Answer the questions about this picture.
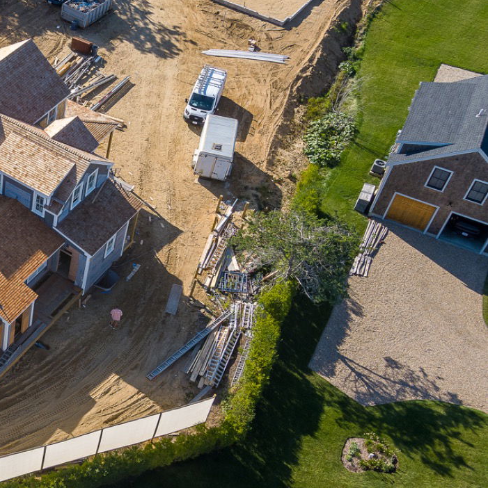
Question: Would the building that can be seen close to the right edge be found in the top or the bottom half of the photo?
top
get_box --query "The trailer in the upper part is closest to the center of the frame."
[185,115,235,183]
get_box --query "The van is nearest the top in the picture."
[188,55,237,123]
